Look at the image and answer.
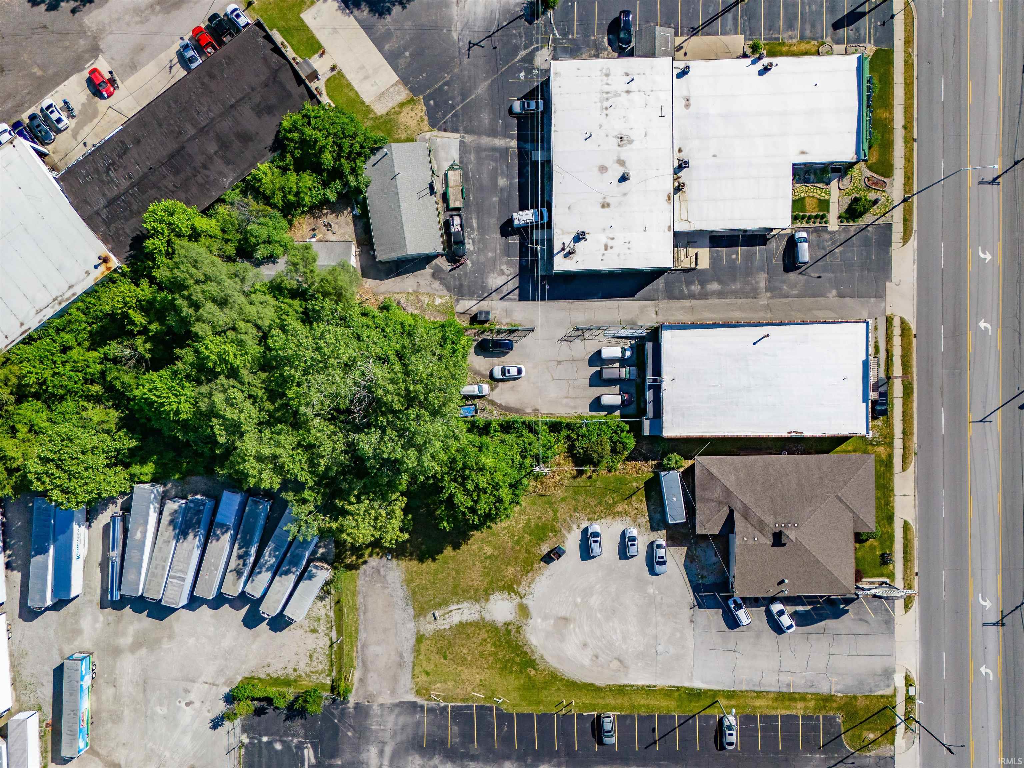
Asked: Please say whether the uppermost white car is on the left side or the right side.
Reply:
left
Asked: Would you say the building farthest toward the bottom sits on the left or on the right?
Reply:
right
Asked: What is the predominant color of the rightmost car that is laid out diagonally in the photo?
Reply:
white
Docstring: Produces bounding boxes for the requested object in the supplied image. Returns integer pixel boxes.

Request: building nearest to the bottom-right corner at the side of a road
[694,453,875,597]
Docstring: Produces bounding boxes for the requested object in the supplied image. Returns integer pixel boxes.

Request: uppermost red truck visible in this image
[190,24,218,56]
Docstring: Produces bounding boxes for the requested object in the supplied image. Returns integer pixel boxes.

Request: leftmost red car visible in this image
[88,66,116,102]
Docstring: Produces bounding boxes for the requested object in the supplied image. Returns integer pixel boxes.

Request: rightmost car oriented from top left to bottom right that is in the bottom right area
[769,599,797,635]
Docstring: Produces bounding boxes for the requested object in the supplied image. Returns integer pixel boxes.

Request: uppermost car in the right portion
[618,9,634,53]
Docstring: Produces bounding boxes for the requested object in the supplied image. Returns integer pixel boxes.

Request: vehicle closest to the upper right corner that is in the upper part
[793,230,811,267]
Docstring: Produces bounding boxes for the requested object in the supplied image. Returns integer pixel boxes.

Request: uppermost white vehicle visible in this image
[225,1,251,30]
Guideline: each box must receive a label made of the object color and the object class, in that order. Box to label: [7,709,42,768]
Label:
white trailer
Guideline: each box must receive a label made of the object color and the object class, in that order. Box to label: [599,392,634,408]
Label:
white car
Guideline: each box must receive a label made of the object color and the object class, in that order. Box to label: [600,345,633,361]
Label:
white vehicle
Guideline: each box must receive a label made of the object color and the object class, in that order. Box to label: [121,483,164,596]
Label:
gray trailer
